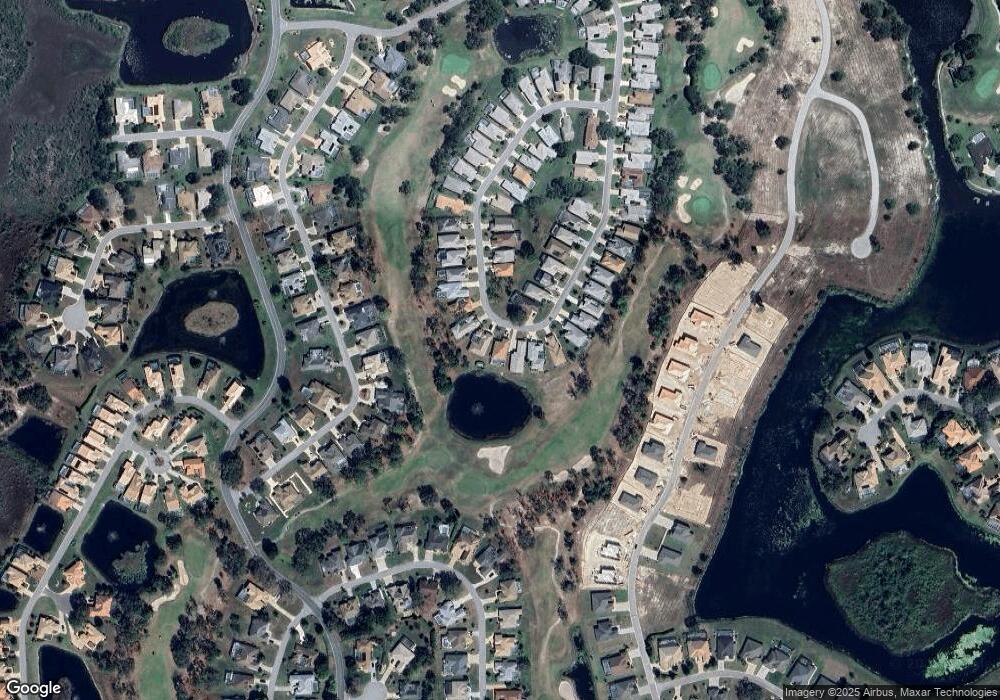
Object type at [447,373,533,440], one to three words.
pond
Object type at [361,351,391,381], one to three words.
house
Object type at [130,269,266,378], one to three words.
pond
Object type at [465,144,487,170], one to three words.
house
